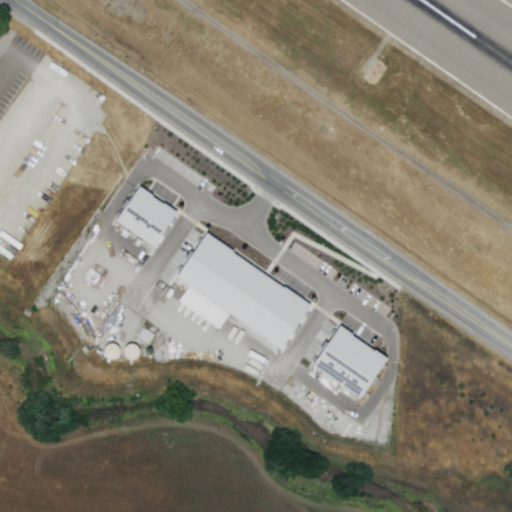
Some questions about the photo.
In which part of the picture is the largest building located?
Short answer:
center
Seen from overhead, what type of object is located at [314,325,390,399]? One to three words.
building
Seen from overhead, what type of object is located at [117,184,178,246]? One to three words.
building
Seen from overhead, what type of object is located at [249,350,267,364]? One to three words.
vehicle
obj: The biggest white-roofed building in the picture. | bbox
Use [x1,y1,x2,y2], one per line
[176,232,314,352]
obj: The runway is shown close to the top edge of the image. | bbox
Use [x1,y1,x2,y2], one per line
[328,0,512,128]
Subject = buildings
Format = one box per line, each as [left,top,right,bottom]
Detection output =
[314,325,390,399]
[138,328,155,345]
[117,184,178,246]
[176,232,314,352]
